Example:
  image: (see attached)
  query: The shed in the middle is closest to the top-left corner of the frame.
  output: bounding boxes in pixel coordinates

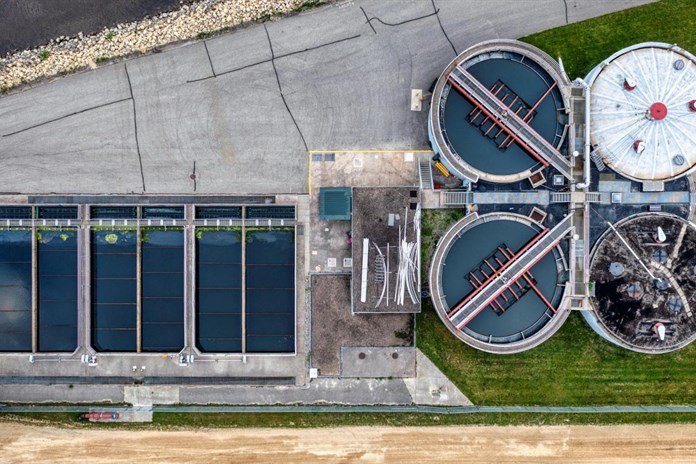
[320,187,351,220]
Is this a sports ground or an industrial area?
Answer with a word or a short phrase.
industrial area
